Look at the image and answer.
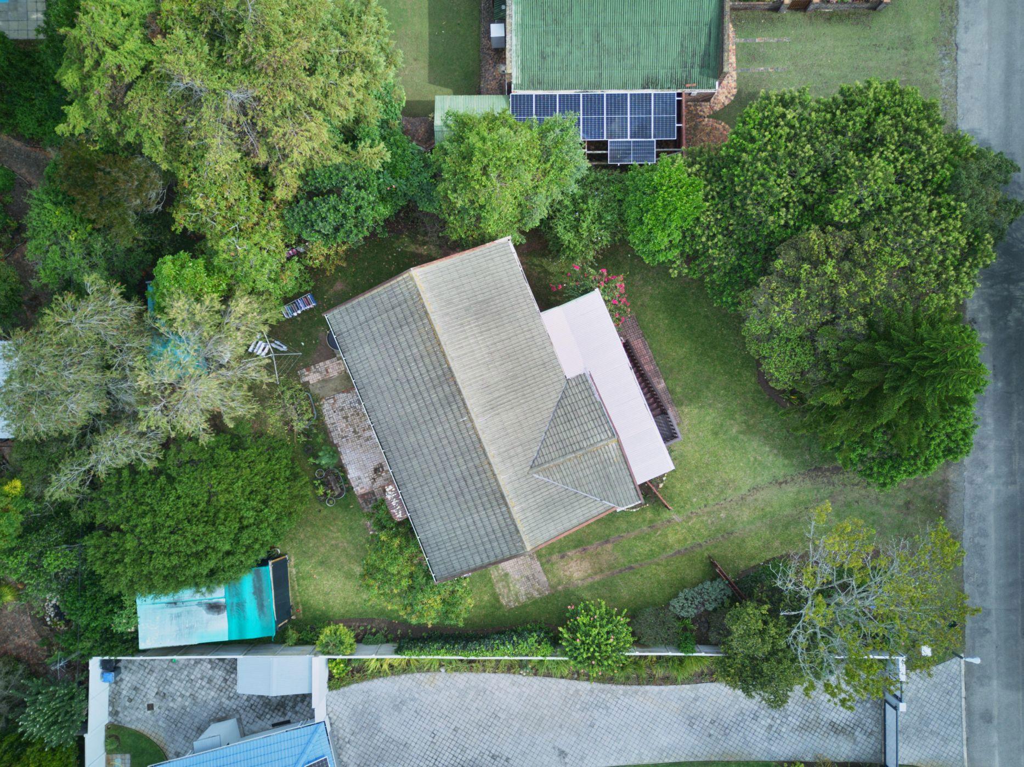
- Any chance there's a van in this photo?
No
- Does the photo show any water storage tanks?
No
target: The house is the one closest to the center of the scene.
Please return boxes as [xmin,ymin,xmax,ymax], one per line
[321,236,676,584]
